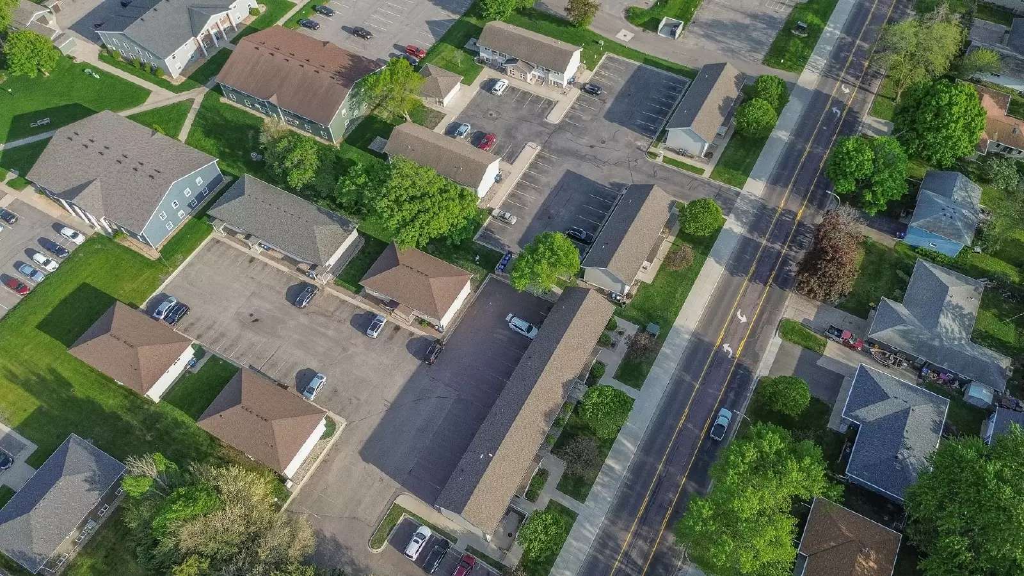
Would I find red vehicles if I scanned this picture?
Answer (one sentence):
Yes, the image includes a red vehicle.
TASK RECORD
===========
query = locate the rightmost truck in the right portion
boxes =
[822,322,866,350]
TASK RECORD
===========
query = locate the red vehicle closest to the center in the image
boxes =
[478,131,498,151]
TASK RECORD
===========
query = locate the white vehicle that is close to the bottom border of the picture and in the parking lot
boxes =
[401,521,433,562]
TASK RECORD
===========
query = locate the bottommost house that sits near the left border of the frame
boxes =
[0,433,127,576]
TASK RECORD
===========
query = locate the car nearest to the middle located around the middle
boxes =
[502,310,539,337]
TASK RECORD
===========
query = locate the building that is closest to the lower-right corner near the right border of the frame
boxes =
[982,406,1024,455]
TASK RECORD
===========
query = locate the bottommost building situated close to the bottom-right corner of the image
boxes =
[788,501,893,576]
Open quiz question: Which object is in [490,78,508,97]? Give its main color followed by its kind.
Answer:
white car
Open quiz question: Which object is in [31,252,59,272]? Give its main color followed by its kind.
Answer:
white car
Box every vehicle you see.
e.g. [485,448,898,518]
[162,297,192,327]
[478,131,498,151]
[822,322,866,350]
[362,311,389,341]
[489,207,519,226]
[151,294,177,321]
[0,205,21,225]
[2,275,31,296]
[89,20,106,30]
[350,23,375,40]
[401,521,433,562]
[706,404,735,446]
[422,536,453,576]
[312,4,336,18]
[578,79,606,98]
[419,336,446,367]
[17,263,45,283]
[31,252,59,272]
[57,224,86,245]
[490,78,508,97]
[452,119,473,141]
[41,237,70,258]
[298,17,321,31]
[449,549,477,576]
[293,281,318,310]
[300,369,329,402]
[0,446,16,474]
[502,310,539,337]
